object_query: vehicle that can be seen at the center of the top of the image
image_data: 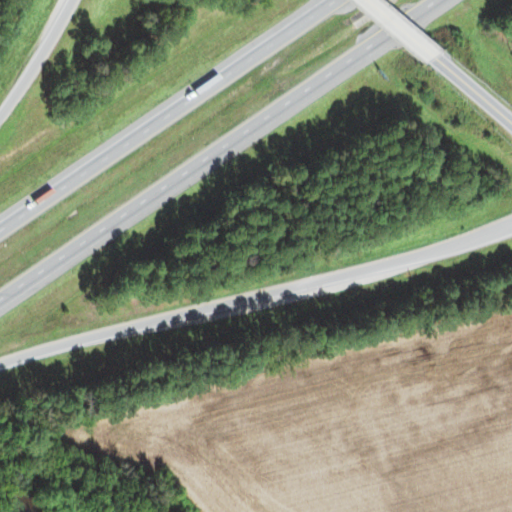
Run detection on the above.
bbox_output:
[185,73,222,100]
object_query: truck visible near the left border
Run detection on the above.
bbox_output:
[25,188,54,210]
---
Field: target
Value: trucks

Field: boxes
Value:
[25,188,54,210]
[185,73,222,100]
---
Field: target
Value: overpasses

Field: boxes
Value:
[354,0,449,68]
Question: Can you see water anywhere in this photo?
No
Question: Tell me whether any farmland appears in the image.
Yes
